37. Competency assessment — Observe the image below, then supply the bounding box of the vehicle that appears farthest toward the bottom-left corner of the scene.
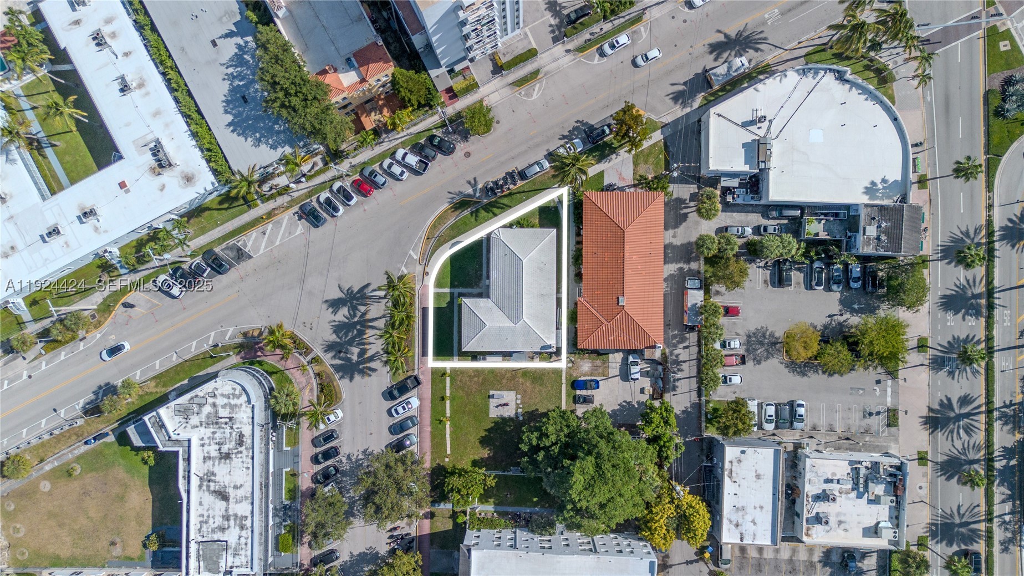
[84,428,113,448]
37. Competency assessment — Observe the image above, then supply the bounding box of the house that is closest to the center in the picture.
[462,228,557,352]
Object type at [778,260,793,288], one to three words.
vehicle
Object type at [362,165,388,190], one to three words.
car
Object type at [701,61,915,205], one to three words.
building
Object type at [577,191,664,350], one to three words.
house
